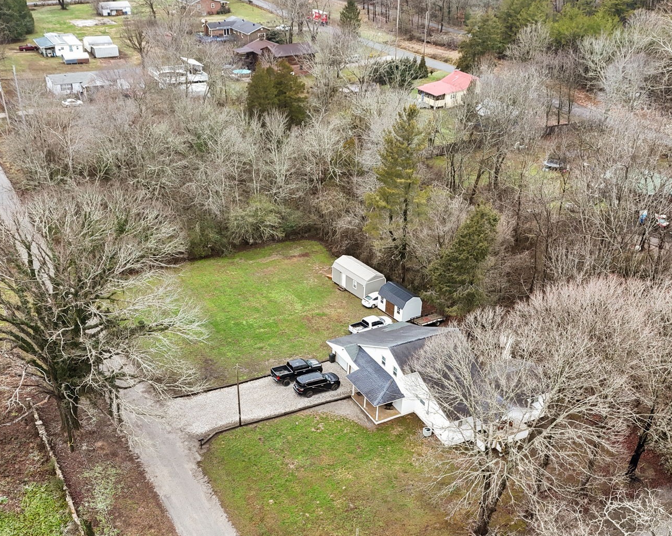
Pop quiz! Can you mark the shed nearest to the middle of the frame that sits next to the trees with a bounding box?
[330,251,386,298]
